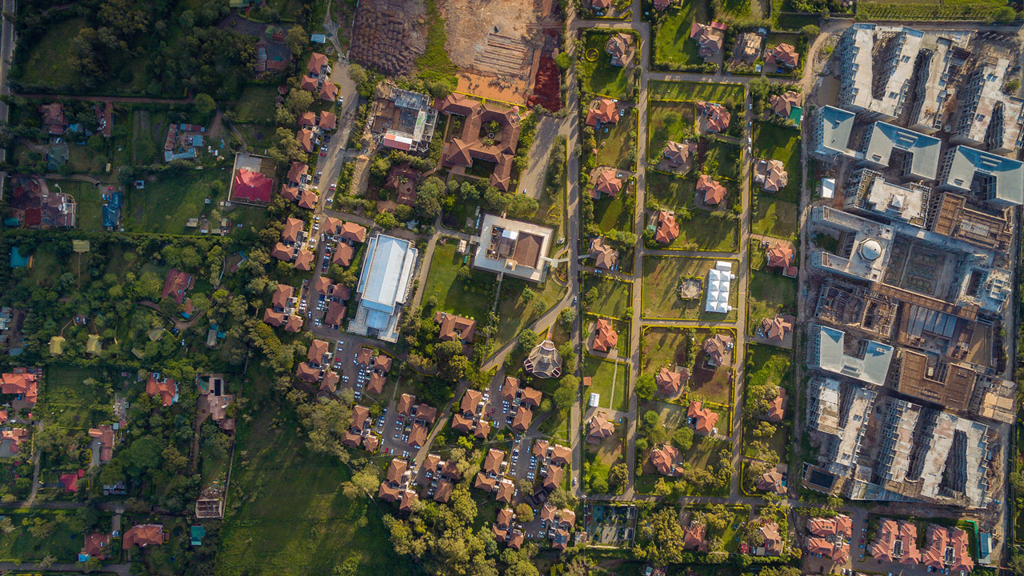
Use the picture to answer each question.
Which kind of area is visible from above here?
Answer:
residential area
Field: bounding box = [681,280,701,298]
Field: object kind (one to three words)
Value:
gazebo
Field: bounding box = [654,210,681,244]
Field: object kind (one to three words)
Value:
house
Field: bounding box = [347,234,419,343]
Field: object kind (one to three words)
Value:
building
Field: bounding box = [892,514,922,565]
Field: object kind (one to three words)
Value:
house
